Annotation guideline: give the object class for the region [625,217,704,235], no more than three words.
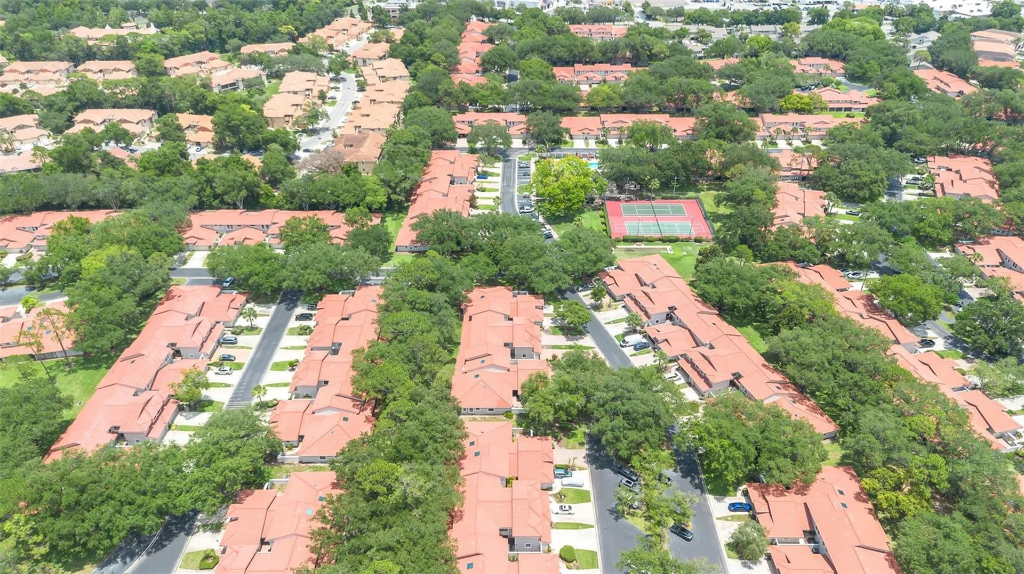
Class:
tennis court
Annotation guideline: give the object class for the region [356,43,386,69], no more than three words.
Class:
house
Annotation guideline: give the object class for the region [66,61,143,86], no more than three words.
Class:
house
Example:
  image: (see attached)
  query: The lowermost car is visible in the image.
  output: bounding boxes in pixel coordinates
[669,525,694,542]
